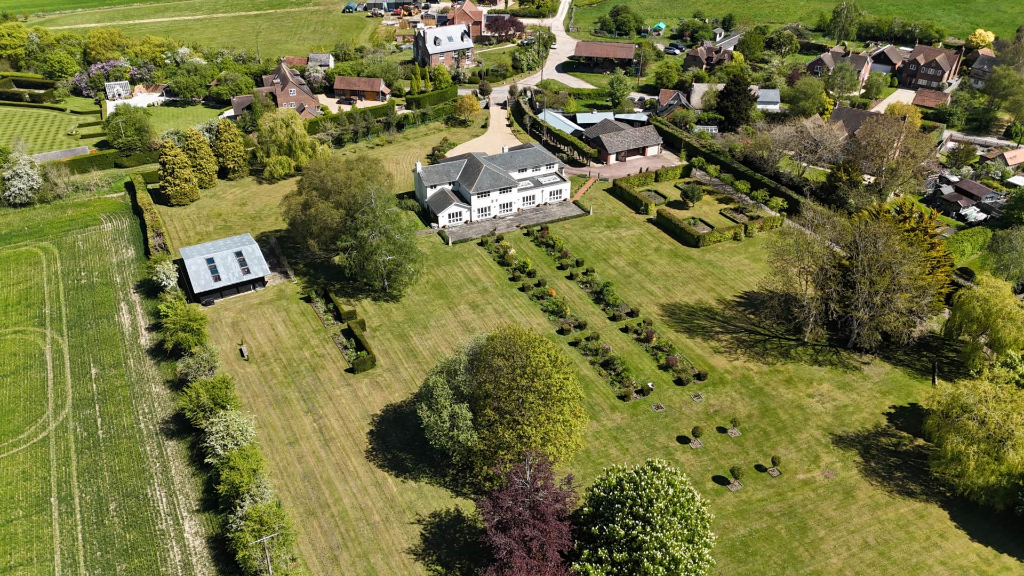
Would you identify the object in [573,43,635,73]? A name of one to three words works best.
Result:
barn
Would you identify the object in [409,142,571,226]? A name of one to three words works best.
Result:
house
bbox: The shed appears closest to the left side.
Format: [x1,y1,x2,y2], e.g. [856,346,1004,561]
[30,142,89,170]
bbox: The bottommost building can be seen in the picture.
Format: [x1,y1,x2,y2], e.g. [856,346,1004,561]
[176,233,272,304]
